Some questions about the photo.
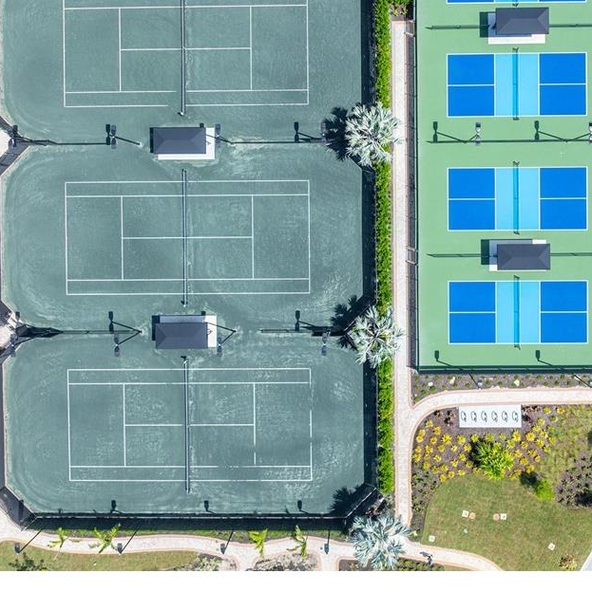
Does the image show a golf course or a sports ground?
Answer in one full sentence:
It's a sports ground.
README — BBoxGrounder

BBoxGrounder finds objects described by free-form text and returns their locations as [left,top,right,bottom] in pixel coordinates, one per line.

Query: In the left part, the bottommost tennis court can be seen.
[4,332,376,517]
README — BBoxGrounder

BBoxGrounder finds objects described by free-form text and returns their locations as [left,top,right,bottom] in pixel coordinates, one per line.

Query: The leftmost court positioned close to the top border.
[0,0,374,143]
